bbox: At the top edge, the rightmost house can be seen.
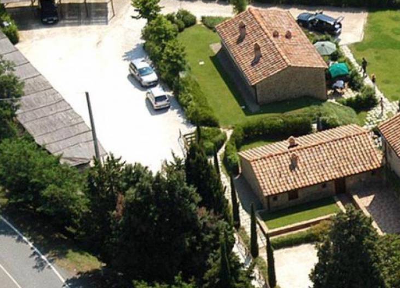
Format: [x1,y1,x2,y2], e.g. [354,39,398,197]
[213,7,330,103]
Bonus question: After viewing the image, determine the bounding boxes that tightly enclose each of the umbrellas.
[315,44,335,59]
[328,68,347,81]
